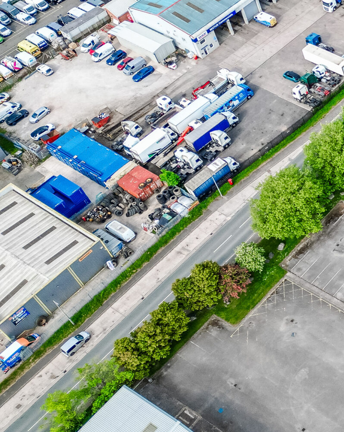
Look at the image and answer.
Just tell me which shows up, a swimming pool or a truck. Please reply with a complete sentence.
The one in the frame is a truck.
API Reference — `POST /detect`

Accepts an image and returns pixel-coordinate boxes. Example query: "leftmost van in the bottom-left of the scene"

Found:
[0,337,49,379]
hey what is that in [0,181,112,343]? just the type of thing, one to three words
building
